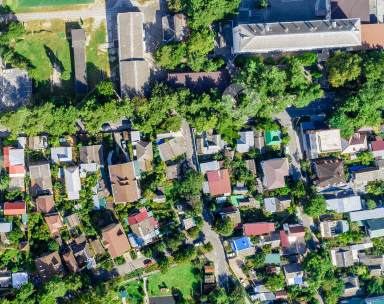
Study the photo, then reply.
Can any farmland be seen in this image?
No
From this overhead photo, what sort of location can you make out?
residential area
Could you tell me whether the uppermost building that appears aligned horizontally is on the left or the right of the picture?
right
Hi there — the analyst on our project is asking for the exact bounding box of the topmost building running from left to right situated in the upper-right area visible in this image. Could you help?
[227,18,363,55]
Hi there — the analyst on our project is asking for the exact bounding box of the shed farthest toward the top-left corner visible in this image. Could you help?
[71,28,87,95]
